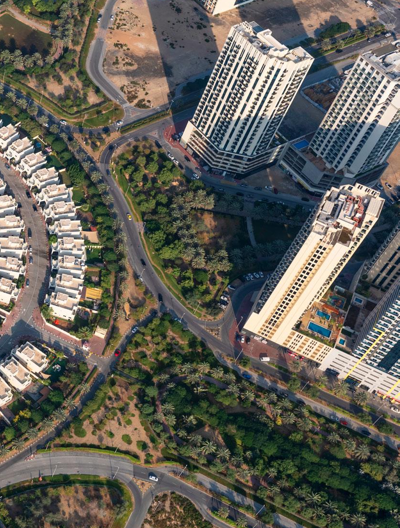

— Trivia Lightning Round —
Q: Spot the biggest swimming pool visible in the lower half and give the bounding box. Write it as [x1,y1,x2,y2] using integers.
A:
[309,325,333,342]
